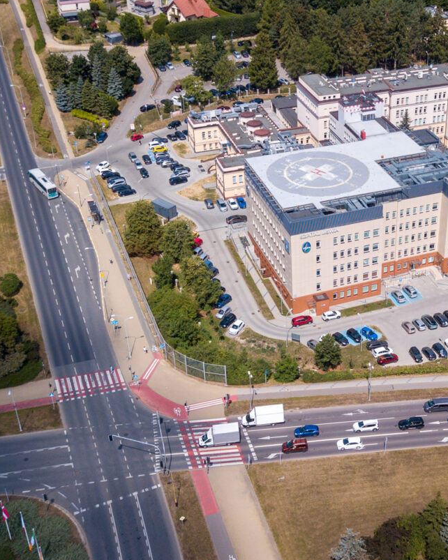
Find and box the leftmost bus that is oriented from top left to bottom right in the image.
[32,169,58,196]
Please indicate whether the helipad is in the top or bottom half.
top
